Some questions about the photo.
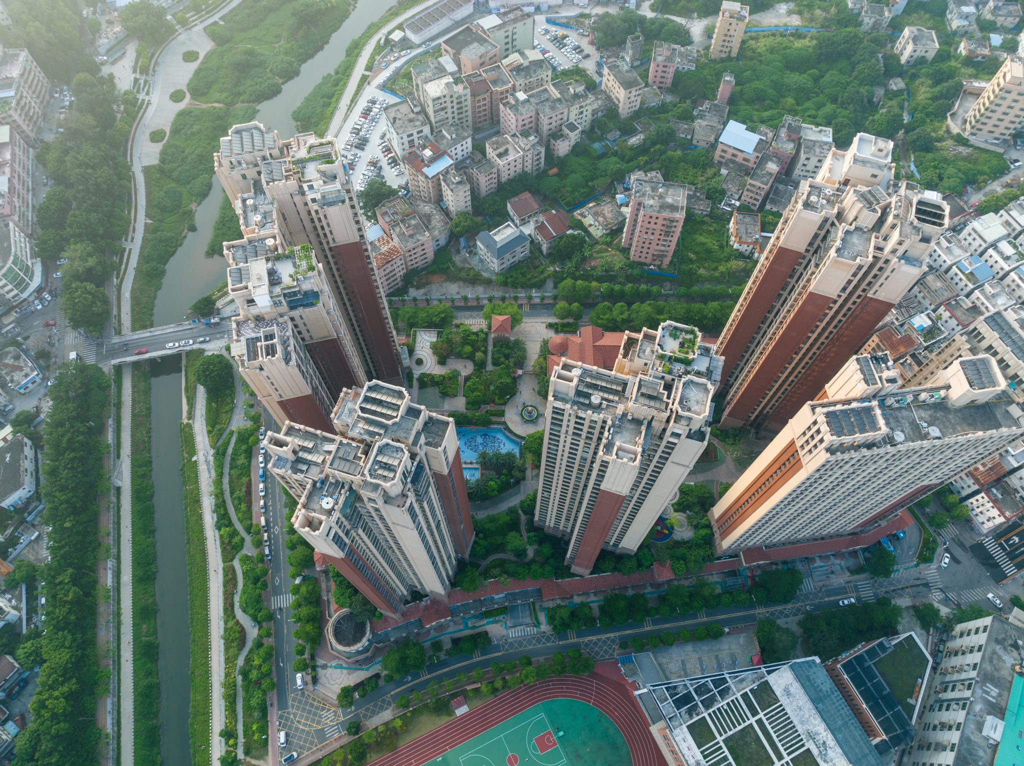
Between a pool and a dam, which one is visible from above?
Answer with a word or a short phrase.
pool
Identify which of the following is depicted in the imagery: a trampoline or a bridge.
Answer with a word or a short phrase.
bridge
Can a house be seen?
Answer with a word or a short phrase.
Yes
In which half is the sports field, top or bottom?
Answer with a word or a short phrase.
bottom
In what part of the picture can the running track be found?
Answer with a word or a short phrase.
bottom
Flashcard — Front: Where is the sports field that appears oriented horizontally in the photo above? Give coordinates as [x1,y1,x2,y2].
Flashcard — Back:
[419,699,634,766]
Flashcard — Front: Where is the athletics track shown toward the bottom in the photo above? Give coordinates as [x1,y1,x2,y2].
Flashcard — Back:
[356,671,647,766]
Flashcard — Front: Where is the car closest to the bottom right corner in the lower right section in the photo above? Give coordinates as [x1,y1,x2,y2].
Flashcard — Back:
[987,594,1002,608]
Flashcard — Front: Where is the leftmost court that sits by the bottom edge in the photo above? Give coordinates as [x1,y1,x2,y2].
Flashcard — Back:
[453,704,574,766]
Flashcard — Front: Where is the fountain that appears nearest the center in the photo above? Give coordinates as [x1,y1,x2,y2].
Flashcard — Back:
[519,402,542,423]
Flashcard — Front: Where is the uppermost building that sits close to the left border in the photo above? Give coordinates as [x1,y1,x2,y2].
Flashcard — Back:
[0,45,56,139]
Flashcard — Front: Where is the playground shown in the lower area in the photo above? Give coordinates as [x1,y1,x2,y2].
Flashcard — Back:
[646,515,677,548]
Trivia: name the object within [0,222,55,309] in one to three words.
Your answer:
building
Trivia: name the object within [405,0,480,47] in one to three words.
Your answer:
shed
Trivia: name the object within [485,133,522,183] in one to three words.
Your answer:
building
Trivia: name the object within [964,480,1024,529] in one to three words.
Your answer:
house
